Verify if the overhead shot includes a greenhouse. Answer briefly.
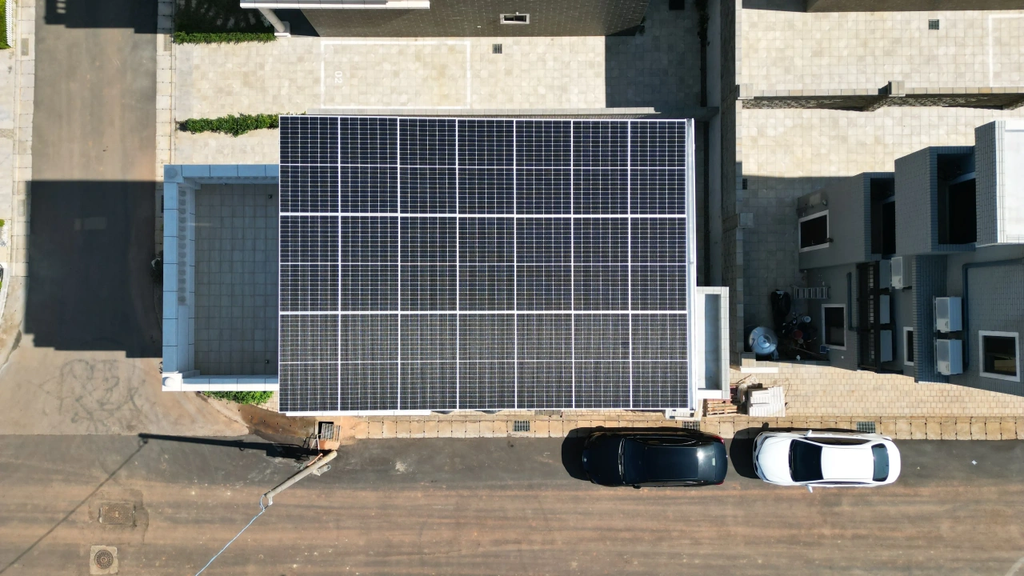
No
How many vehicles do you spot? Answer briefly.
2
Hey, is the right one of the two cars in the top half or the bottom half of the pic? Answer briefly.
bottom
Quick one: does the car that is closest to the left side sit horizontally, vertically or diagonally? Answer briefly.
horizontally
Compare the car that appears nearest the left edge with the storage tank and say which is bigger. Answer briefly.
the car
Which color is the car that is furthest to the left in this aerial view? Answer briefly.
black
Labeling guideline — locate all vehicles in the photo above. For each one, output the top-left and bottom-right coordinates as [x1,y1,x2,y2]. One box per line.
[581,429,727,495]
[752,427,901,494]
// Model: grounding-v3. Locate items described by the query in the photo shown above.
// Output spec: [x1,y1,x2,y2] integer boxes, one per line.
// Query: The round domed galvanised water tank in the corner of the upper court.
[742,326,775,358]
